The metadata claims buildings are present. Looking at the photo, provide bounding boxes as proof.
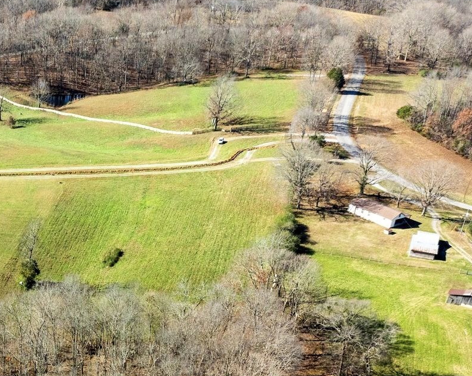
[347,193,430,231]
[446,287,472,308]
[408,230,440,261]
